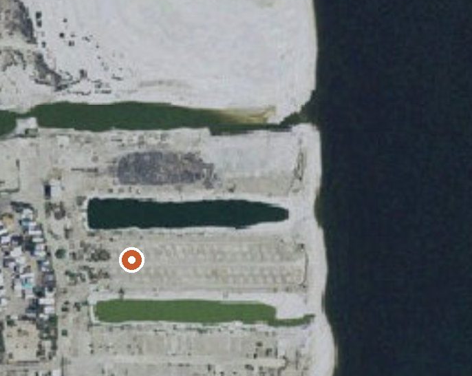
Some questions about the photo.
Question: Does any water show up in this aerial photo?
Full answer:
Yes, there is water in the image.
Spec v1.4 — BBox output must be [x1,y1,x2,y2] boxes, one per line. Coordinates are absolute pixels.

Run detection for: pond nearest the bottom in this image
[96,298,315,326]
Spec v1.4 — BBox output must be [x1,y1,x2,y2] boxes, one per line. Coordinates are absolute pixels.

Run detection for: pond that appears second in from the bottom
[87,198,289,229]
